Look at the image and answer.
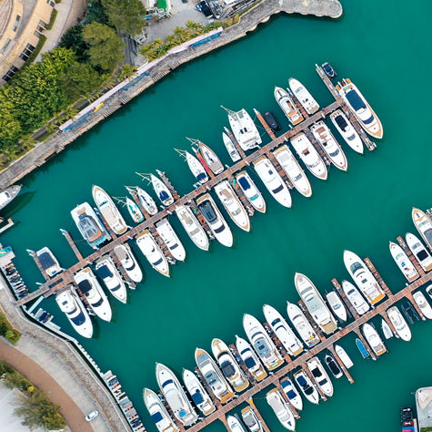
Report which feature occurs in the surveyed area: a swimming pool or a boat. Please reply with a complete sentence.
There is a boat in the scene.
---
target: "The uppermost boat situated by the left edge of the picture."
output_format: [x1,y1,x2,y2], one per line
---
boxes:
[0,185,21,212]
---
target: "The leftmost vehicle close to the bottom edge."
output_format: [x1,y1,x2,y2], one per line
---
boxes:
[85,409,101,422]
